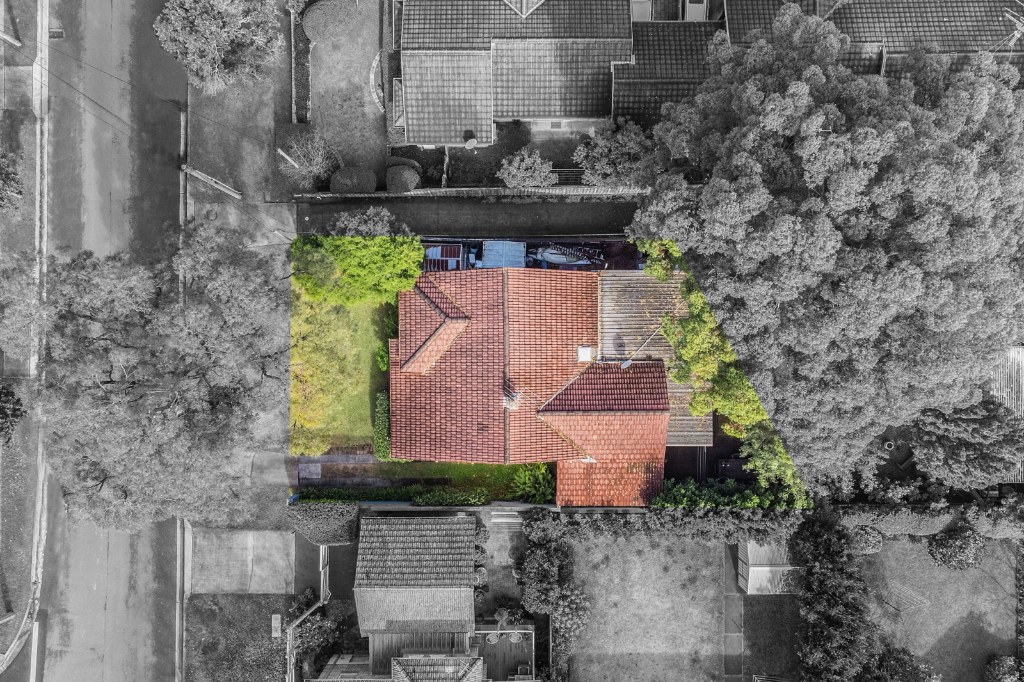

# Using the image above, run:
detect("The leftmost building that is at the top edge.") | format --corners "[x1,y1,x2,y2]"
[393,0,634,155]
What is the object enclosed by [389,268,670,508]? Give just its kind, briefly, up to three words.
house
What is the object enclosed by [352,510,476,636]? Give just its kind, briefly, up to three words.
house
